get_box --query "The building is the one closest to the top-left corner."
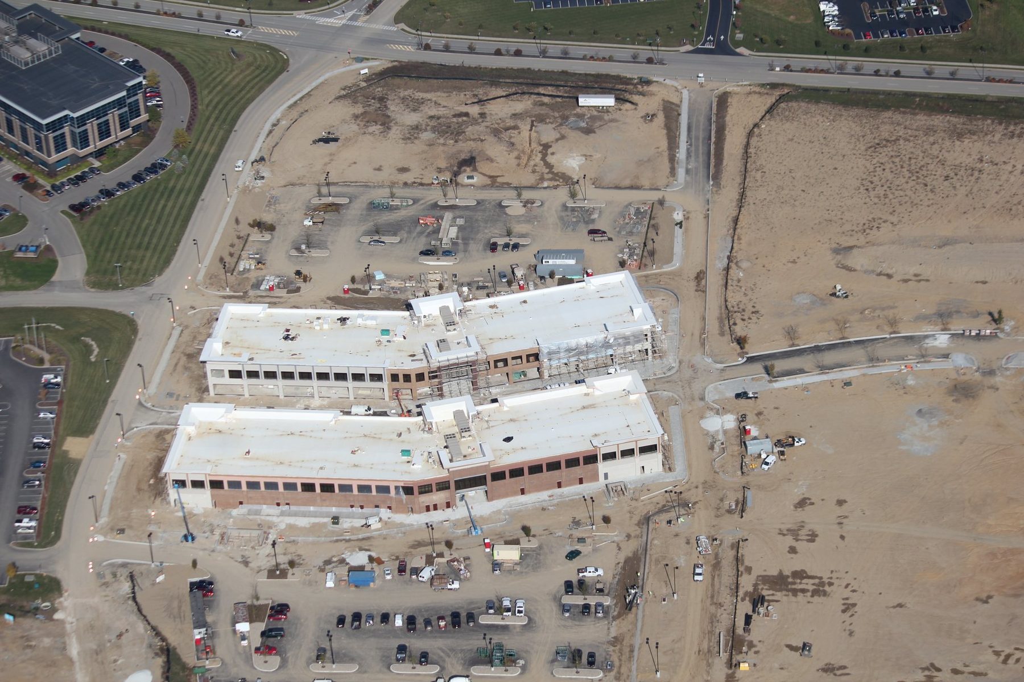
[0,0,147,167]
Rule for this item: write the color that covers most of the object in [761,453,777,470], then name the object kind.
white car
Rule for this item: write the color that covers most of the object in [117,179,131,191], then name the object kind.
black vehicle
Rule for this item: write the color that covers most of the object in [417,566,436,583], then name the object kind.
white vehicle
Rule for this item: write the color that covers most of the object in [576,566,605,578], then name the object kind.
white vehicle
